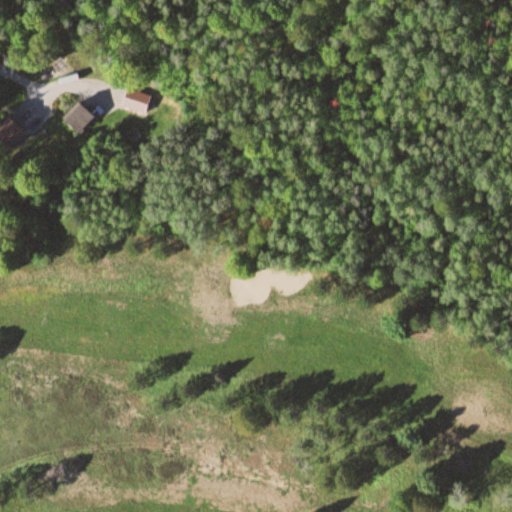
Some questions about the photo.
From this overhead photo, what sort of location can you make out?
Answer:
golf course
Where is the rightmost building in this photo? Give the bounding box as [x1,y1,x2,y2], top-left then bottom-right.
[122,89,149,116]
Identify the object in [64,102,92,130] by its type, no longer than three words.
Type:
house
